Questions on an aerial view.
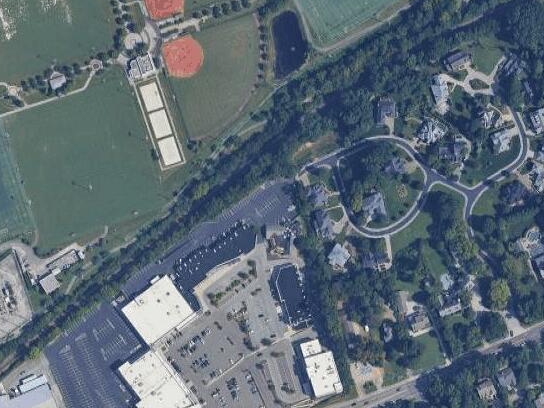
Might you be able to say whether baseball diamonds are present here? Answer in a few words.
Yes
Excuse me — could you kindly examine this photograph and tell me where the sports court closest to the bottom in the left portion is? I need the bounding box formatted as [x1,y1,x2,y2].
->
[155,135,185,169]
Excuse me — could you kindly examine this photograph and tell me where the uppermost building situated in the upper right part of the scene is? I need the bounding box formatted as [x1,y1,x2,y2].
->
[440,47,474,74]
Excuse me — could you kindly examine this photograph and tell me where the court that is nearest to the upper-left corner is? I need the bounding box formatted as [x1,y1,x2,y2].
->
[137,80,165,113]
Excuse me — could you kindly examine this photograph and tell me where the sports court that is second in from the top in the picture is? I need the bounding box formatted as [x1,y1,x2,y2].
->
[146,107,174,141]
